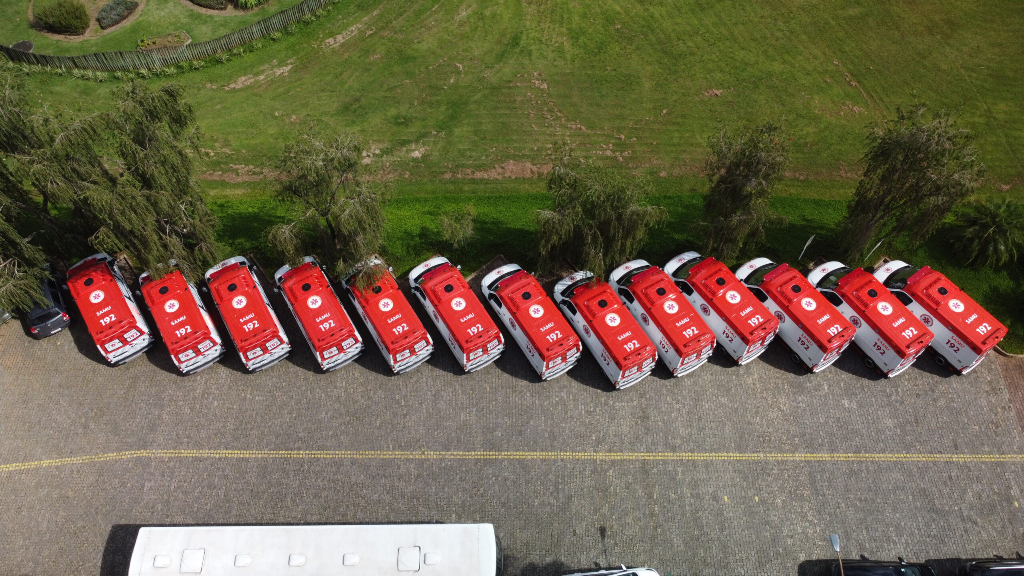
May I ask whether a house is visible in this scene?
No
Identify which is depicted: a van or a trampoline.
van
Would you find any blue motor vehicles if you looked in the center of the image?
No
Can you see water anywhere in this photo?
No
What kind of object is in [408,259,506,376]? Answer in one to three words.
van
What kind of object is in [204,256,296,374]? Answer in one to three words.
van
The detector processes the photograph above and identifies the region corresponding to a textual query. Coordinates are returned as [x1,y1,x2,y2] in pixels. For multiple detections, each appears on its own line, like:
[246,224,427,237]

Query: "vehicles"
[731,260,857,376]
[124,526,505,576]
[549,272,657,392]
[659,253,779,368]
[204,256,296,374]
[65,254,161,368]
[866,262,1006,377]
[567,560,663,576]
[604,261,715,380]
[138,261,232,378]
[938,562,1024,576]
[800,263,933,380]
[808,553,932,576]
[3,267,71,340]
[340,259,436,376]
[408,259,506,376]
[480,265,583,384]
[273,256,367,373]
